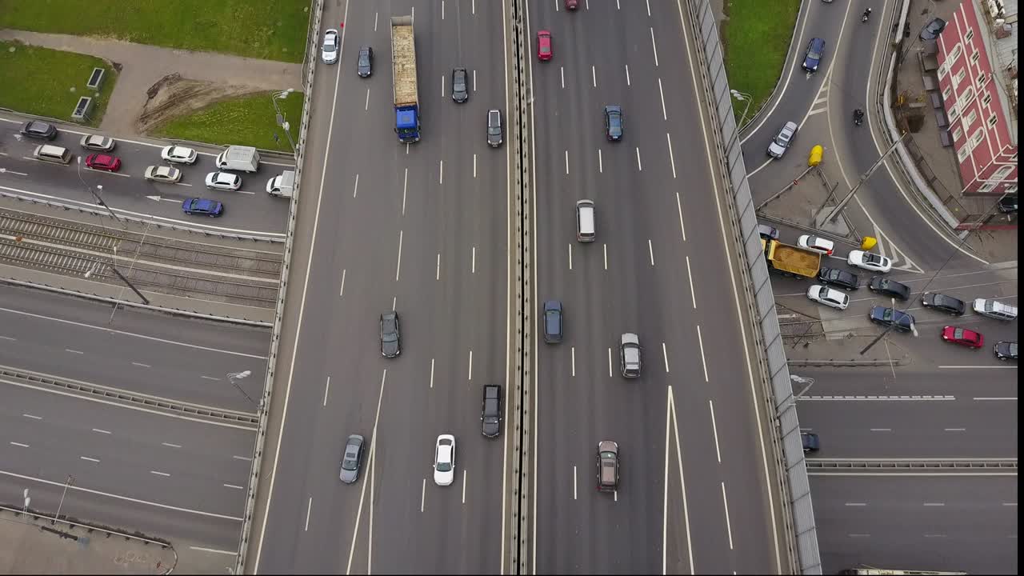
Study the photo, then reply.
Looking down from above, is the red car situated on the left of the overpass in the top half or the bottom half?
top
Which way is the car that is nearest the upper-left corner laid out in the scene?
horizontally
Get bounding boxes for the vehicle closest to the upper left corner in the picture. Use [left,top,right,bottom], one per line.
[19,119,59,140]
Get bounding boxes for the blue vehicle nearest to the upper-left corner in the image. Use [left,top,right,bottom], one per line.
[181,196,225,218]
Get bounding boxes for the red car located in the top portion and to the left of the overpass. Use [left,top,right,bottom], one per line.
[83,152,124,173]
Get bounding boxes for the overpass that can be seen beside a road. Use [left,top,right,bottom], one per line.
[249,0,804,576]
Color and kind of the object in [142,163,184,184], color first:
white car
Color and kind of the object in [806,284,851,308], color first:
white car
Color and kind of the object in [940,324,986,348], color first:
red car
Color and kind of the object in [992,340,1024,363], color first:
gray car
